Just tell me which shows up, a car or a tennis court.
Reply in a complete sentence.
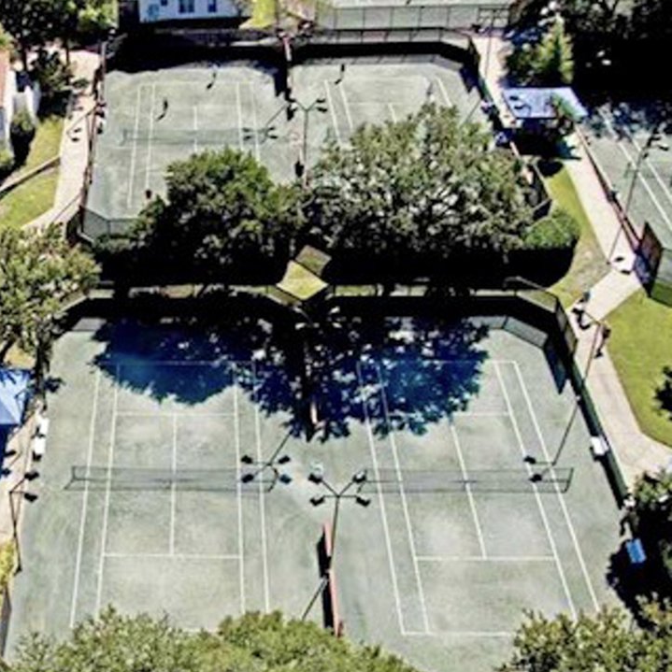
Of the two, only a tennis court appears.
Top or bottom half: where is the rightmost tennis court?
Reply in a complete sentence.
The top half of the photo is where the rightmost tennis court is.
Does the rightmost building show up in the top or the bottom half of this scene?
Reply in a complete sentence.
You can find the rightmost building in the top half.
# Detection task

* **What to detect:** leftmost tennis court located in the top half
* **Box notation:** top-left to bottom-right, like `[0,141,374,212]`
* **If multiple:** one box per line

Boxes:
[82,56,302,244]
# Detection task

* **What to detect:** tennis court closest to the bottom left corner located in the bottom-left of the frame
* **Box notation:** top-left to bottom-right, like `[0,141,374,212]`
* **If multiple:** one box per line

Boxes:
[8,316,332,672]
